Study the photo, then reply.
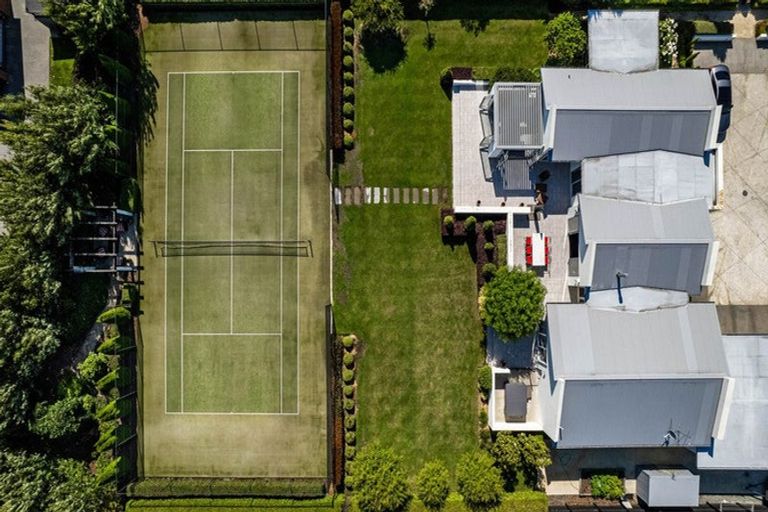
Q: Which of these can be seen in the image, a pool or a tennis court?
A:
tennis court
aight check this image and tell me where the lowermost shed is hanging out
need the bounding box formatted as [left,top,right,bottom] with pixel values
[635,464,700,506]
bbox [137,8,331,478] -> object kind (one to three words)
tennis court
